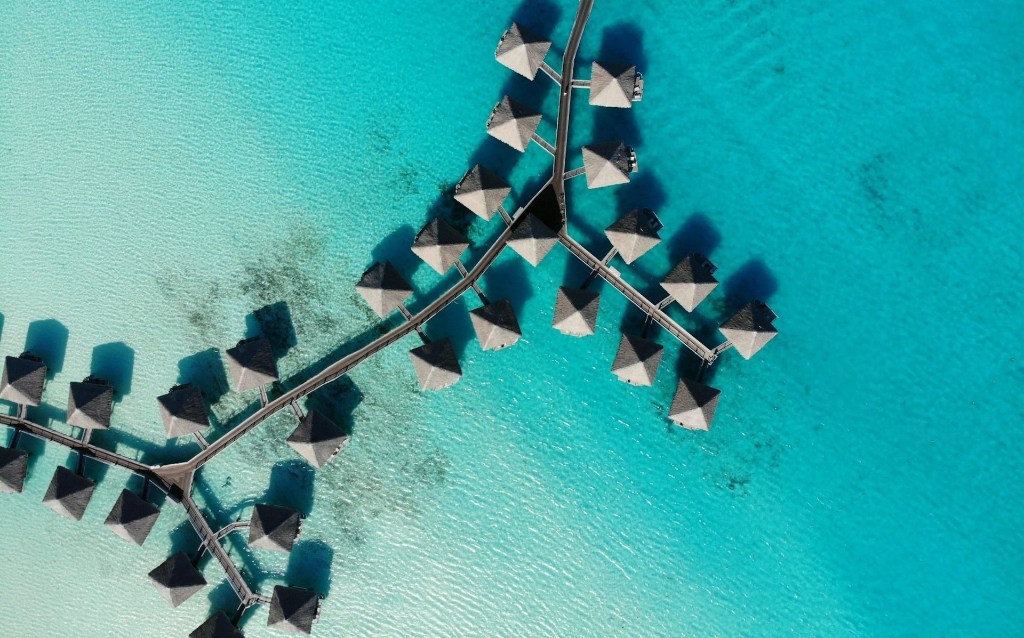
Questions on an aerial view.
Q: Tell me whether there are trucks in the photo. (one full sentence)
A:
No, this view has no truck in it.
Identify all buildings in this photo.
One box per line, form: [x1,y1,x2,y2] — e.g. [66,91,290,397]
[609,332,664,387]
[453,163,512,222]
[268,585,324,634]
[506,213,560,267]
[602,206,664,266]
[659,252,720,313]
[41,465,100,521]
[579,139,639,190]
[249,503,305,553]
[667,377,721,431]
[408,336,464,391]
[0,444,35,494]
[287,408,348,468]
[467,296,524,352]
[149,548,210,607]
[355,258,415,319]
[0,353,52,408]
[188,611,249,638]
[410,216,471,276]
[588,60,644,110]
[494,22,552,81]
[66,376,117,429]
[226,336,280,391]
[485,95,544,152]
[552,286,602,338]
[103,488,163,546]
[719,300,778,360]
[156,383,210,439]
